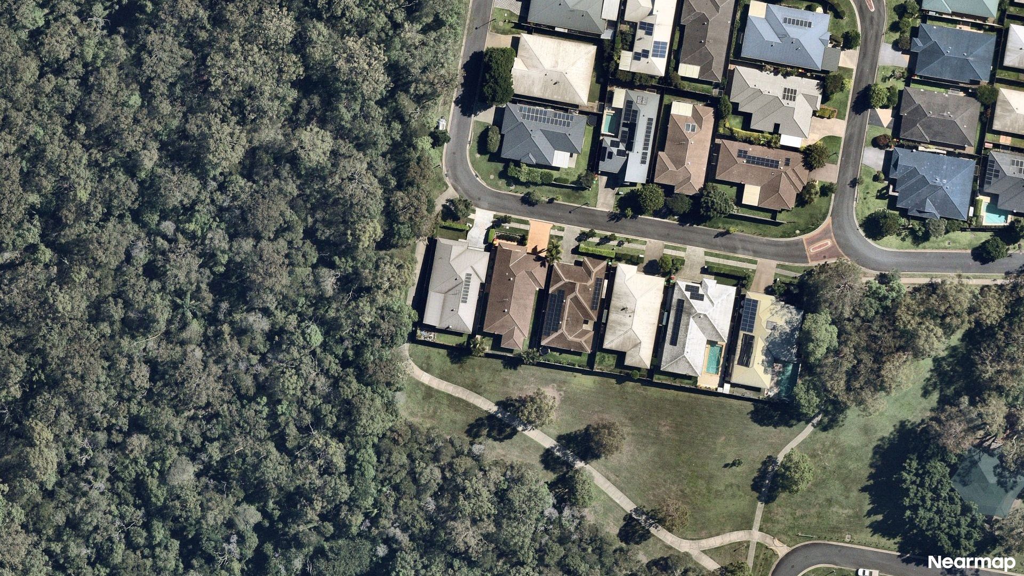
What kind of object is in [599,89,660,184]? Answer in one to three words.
house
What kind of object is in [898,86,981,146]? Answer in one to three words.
house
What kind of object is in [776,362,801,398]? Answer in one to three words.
swimming pool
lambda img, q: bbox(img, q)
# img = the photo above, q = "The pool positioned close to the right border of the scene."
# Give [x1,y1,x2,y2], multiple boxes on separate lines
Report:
[980,195,1012,226]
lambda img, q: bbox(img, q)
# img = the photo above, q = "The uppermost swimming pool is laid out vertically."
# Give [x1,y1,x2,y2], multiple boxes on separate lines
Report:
[600,110,616,136]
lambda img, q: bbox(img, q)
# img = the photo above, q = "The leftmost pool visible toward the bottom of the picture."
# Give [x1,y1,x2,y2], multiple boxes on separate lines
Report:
[705,342,723,376]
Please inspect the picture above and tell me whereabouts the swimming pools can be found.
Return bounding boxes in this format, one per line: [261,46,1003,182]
[776,362,801,398]
[600,110,616,136]
[705,342,723,376]
[980,195,1012,226]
